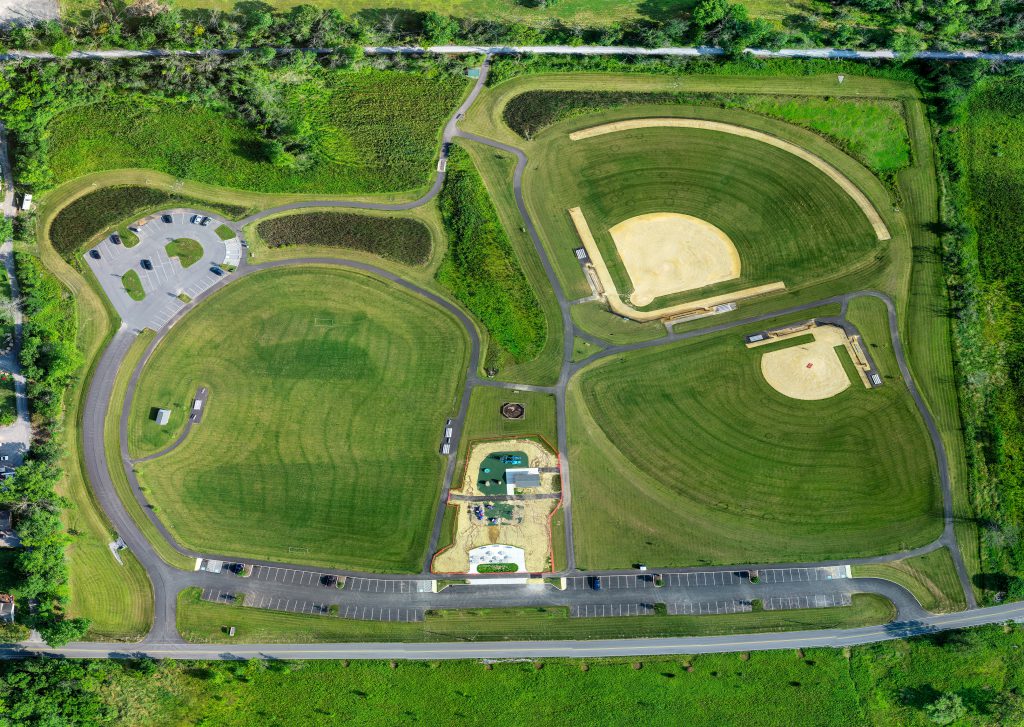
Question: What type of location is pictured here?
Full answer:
This looks like a sports ground.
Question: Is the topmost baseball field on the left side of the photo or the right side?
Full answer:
You can find the topmost baseball field on the right side of the picture.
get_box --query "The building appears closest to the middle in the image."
[513,472,541,488]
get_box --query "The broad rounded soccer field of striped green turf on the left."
[128,266,471,570]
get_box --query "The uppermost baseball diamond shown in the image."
[545,115,897,325]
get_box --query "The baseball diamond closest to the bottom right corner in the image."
[580,315,943,547]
